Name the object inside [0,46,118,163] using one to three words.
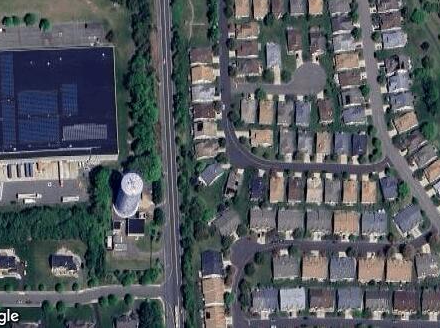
warehouse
